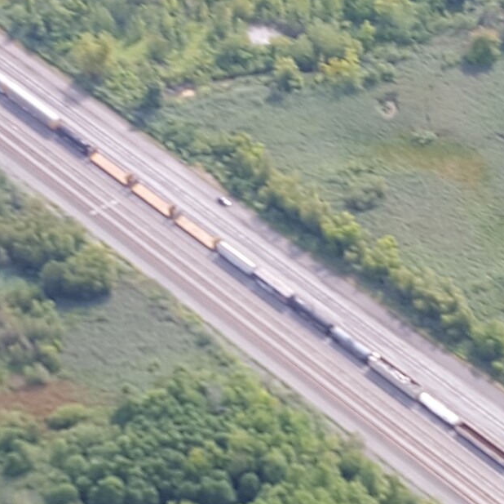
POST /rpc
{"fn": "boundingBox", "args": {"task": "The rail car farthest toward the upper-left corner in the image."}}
[58,125,93,155]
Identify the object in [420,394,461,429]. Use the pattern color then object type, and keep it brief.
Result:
white rail car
